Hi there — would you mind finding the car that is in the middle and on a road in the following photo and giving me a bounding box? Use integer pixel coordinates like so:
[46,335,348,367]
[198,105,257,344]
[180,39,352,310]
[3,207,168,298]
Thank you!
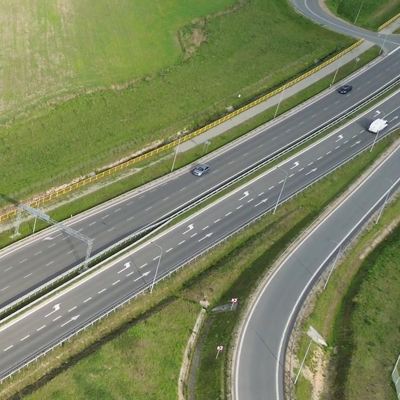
[194,163,212,175]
